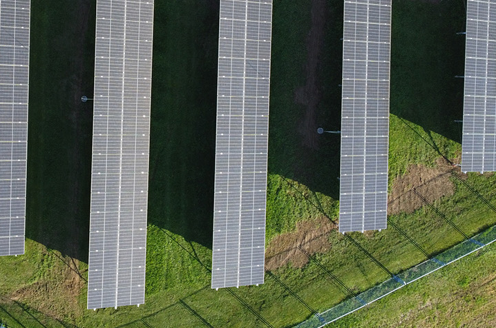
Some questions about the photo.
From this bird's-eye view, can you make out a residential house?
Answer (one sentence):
No, there appears to be no residential house in this shot.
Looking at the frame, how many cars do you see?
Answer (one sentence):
There are no cars in this view.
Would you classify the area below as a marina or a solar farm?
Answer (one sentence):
What you see here is a solar farm.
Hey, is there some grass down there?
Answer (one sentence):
Yes, grass shows up in the scene.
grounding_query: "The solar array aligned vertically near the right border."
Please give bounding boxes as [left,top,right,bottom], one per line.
[451,0,496,175]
